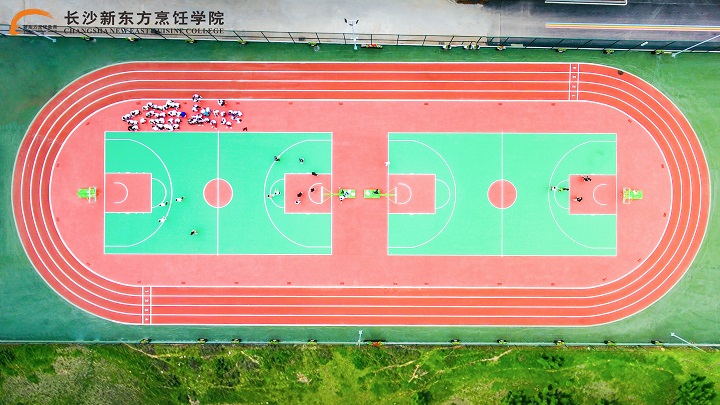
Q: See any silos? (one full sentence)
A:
No, the frame has no silo in it.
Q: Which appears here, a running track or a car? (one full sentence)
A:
Looking from above, you can make out a running track.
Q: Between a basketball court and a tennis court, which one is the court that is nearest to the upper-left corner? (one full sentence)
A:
I'd identify the court that is nearest to the upper-left corner as a basketball court.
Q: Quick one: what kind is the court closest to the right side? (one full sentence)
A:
I'd identify the court closest to the right side as a basketball court.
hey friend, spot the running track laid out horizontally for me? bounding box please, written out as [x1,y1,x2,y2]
[12,62,710,326]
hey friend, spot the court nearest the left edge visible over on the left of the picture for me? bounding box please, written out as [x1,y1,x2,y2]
[104,130,333,255]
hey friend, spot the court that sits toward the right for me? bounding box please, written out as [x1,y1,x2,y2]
[388,131,617,256]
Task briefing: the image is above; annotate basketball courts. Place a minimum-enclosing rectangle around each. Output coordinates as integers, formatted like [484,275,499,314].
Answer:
[388,131,617,256]
[104,130,333,255]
